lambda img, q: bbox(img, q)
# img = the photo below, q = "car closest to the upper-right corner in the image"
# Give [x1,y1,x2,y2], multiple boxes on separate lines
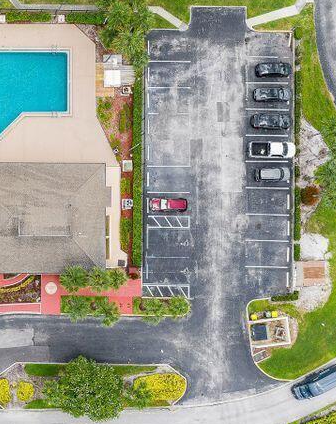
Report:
[253,61,290,79]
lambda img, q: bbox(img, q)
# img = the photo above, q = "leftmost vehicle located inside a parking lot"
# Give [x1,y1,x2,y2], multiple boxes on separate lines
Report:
[149,195,187,214]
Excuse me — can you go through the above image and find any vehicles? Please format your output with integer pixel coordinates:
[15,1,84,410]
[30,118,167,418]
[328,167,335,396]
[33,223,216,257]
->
[253,61,290,79]
[252,84,289,102]
[248,140,296,159]
[149,195,187,214]
[293,362,336,396]
[254,165,289,183]
[250,112,290,130]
